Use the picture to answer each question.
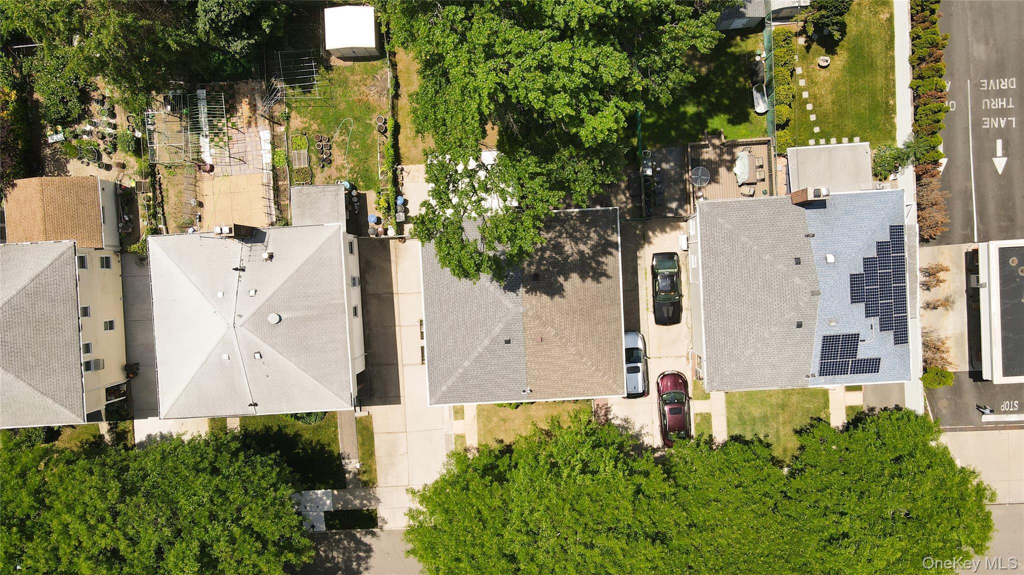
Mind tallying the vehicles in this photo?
three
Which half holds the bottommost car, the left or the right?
right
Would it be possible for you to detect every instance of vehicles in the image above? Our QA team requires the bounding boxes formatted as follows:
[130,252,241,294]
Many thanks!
[651,252,685,325]
[655,371,692,447]
[625,330,654,399]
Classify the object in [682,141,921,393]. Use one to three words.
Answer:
house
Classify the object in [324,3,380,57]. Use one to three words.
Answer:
shed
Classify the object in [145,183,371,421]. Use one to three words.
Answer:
house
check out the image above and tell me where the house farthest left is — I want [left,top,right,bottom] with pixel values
[0,174,129,430]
